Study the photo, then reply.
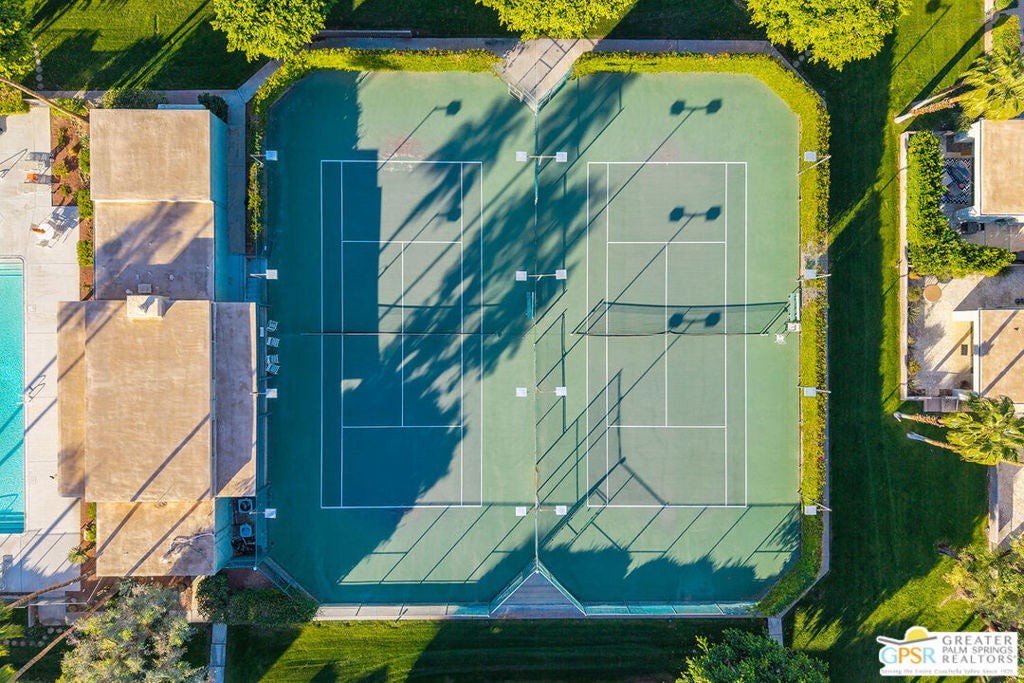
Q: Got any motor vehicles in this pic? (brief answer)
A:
No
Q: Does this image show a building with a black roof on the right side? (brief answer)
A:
No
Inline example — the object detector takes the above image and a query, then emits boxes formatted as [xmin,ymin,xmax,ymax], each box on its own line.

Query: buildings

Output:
[953,130,1024,219]
[948,310,1024,405]
[57,110,257,576]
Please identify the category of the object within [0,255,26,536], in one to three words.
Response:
swimming pool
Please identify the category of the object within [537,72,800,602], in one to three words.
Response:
tennis court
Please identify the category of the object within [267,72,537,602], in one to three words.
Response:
tennis court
